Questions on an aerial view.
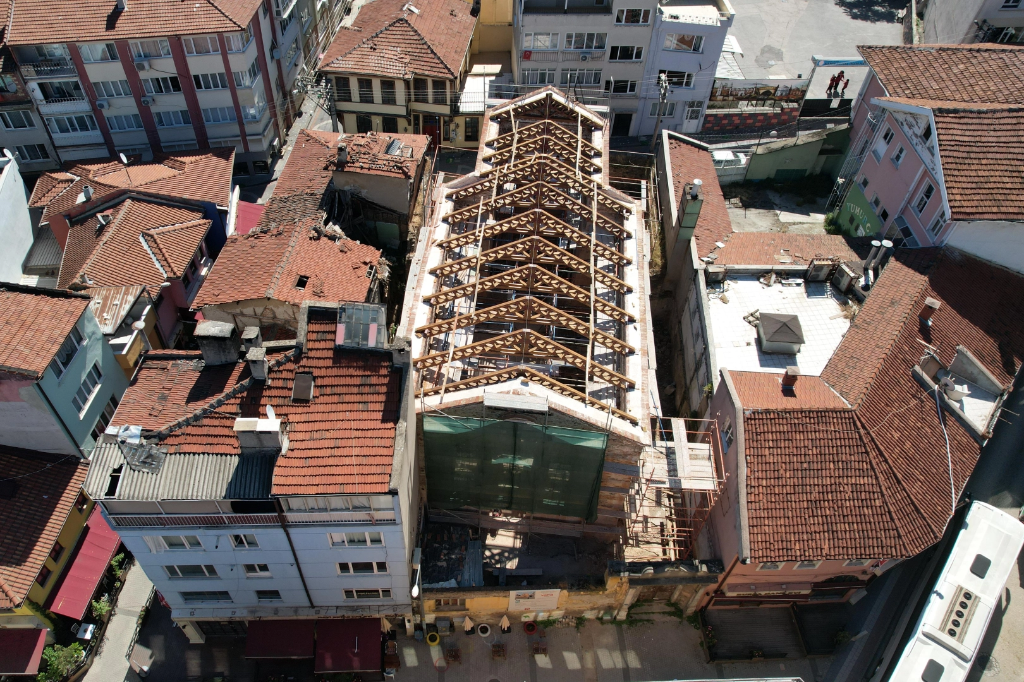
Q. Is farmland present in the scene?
No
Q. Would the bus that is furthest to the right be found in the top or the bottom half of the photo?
bottom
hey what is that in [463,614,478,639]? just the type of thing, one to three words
umbrella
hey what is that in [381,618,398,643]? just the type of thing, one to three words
umbrella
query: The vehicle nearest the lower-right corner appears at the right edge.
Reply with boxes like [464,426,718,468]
[863,502,1023,682]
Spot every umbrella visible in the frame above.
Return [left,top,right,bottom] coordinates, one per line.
[499,613,515,638]
[463,614,478,639]
[381,618,398,643]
